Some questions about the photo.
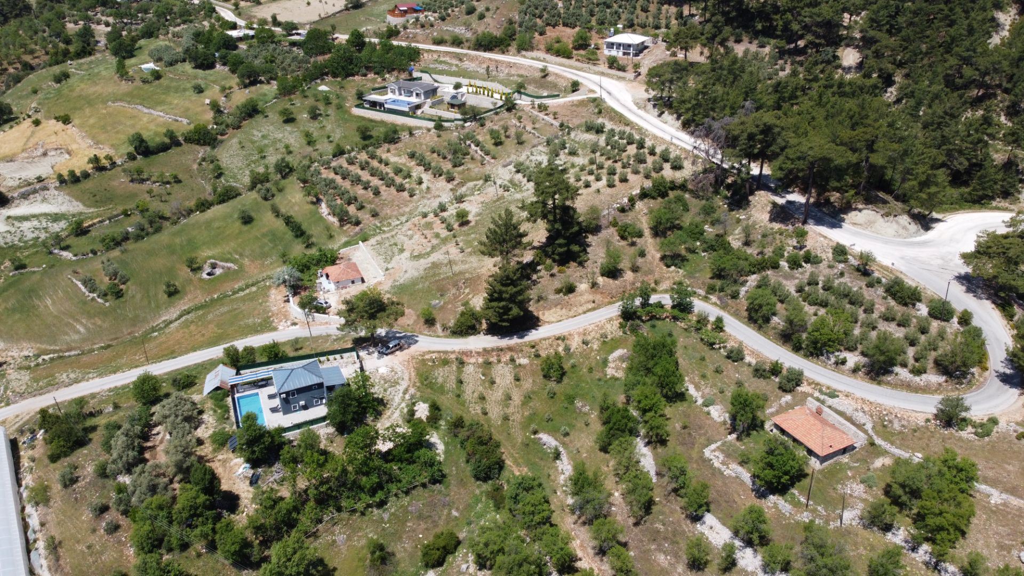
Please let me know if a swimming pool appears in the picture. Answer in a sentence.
Yes, looking at the shot, I can spot a swimming pool.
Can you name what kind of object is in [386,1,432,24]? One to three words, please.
building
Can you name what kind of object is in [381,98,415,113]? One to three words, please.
swimming pool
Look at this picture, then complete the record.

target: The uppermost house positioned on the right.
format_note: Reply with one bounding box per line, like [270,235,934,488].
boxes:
[603,29,646,55]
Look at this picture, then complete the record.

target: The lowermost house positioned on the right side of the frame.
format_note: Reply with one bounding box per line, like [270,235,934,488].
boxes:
[771,401,858,466]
